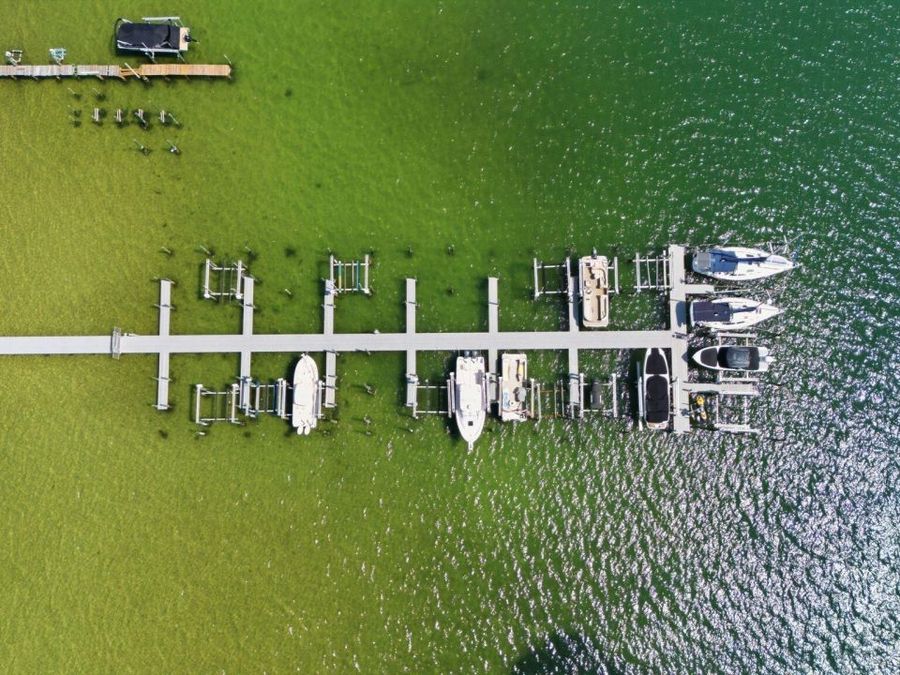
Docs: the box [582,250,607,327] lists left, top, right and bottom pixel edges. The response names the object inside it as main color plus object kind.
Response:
white boat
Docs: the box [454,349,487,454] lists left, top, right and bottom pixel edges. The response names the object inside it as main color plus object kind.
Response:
white boat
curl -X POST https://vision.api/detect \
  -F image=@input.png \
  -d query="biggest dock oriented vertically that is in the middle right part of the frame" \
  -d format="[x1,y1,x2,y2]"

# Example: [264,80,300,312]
[667,245,693,432]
